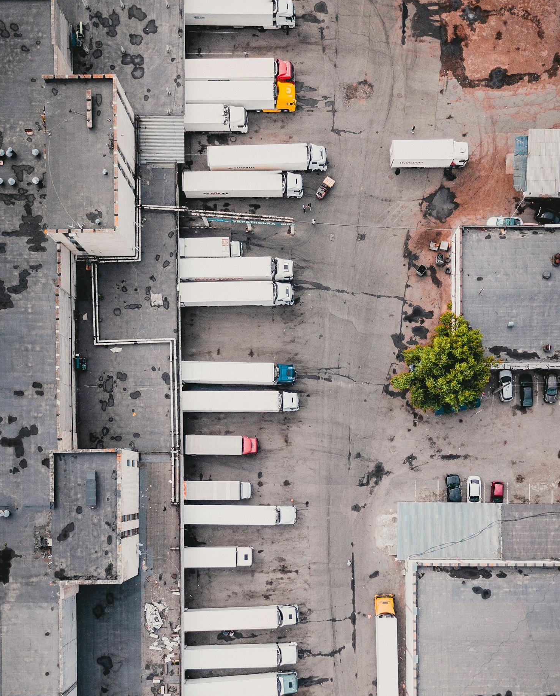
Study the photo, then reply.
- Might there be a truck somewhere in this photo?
Yes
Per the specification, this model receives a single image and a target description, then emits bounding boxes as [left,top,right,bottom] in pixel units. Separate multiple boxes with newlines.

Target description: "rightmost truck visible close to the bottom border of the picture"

[374,591,398,696]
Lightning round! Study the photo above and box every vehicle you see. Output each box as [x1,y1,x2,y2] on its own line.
[542,373,560,405]
[490,479,505,503]
[374,591,398,696]
[183,238,245,258]
[185,58,296,89]
[184,104,249,134]
[466,475,483,502]
[390,140,470,169]
[182,479,254,501]
[185,0,297,30]
[519,373,535,408]
[184,362,297,385]
[186,603,300,631]
[183,281,295,307]
[183,257,295,282]
[206,144,329,173]
[437,396,478,418]
[186,503,297,526]
[445,474,462,502]
[534,209,560,225]
[185,80,297,112]
[183,170,304,200]
[317,180,331,201]
[186,435,260,456]
[186,643,299,670]
[186,671,300,696]
[184,390,301,414]
[186,545,255,568]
